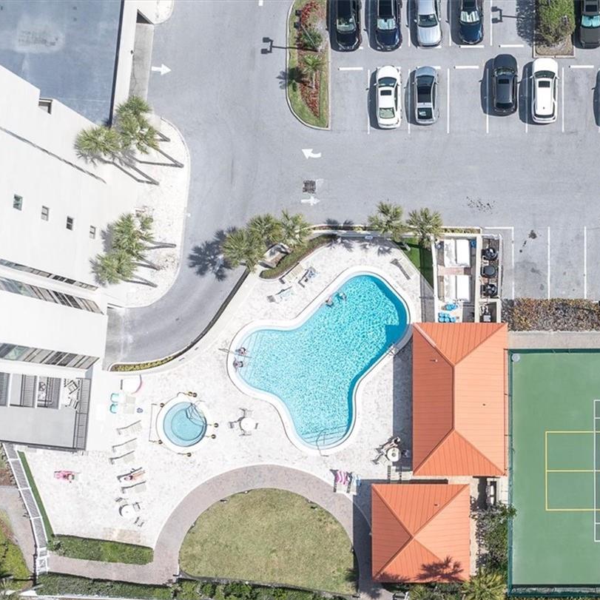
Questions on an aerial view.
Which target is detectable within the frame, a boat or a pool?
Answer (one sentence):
There is a pool in the scene.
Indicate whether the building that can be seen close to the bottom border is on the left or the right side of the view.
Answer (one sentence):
You can find the building that can be seen close to the bottom border on the right side of the picture.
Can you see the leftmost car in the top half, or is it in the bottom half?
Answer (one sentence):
The leftmost car is in the top half of the image.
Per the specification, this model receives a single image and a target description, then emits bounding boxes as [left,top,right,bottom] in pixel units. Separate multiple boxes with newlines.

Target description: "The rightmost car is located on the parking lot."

[577,0,600,52]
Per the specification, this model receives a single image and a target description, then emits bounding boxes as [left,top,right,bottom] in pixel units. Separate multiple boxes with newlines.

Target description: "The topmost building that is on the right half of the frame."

[413,323,508,476]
